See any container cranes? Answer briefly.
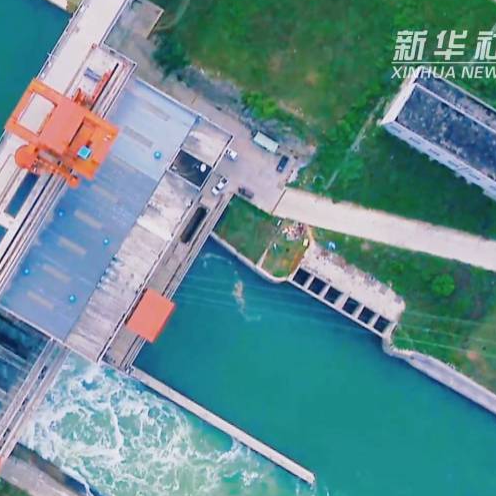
Yes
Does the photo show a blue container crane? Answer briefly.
No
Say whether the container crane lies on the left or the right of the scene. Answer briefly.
left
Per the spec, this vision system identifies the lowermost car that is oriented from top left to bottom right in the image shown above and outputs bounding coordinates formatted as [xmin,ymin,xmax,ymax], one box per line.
[238,186,254,198]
